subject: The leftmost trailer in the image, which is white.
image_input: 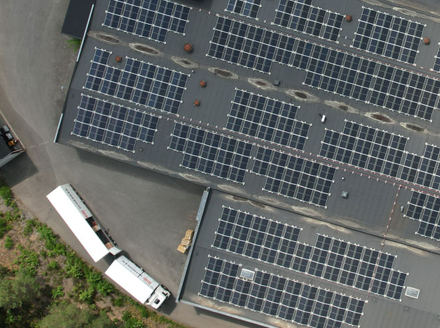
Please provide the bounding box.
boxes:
[47,182,116,261]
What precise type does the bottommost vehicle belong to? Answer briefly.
truck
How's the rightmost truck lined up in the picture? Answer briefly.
diagonally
